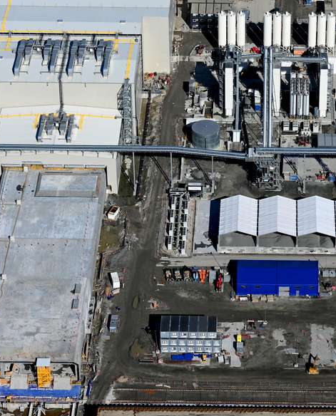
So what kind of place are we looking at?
industrial area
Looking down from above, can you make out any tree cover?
No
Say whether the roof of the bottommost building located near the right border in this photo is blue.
Yes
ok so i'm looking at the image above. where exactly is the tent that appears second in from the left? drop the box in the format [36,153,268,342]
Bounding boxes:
[259,195,296,245]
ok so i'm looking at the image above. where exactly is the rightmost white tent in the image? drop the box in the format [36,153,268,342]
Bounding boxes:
[298,195,335,245]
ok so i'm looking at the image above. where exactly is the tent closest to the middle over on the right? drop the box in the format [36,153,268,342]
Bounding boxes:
[220,195,258,244]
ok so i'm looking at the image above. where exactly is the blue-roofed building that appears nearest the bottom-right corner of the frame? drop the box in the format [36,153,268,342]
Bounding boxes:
[237,261,320,297]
